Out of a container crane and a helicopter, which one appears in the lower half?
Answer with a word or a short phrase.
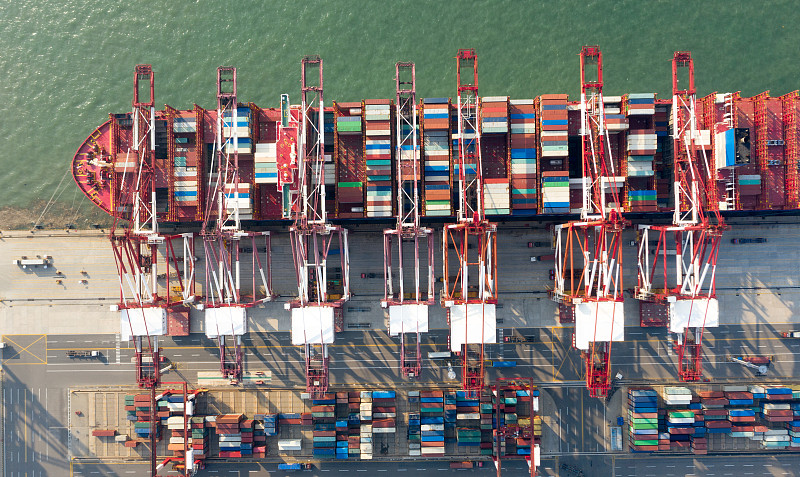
container crane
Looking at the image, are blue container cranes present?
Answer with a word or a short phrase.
No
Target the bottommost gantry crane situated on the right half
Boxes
[484,379,540,477]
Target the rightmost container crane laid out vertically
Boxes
[617,48,727,386]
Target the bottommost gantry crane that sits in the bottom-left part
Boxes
[151,380,217,477]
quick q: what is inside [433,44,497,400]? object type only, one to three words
container crane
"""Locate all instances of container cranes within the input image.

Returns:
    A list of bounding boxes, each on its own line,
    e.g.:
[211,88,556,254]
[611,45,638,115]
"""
[107,60,216,393]
[151,380,217,477]
[433,44,497,400]
[378,58,434,383]
[484,379,540,477]
[617,48,727,386]
[284,51,357,401]
[536,41,625,404]
[193,62,285,390]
